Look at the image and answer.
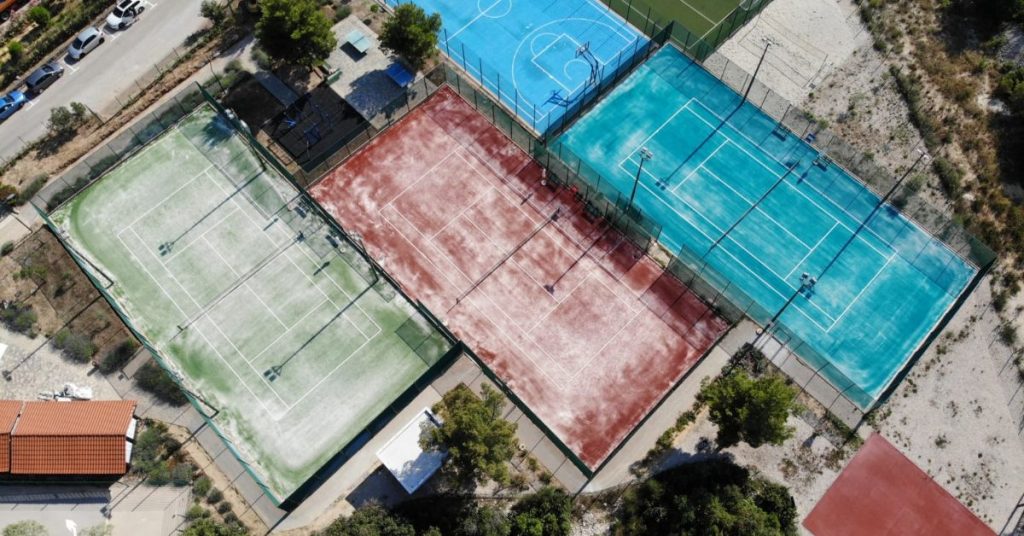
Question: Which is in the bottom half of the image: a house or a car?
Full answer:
Looking in the bottom half of the image, you will find a house.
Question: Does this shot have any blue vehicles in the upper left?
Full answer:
Yes, a blue vehicle appears in the upper left.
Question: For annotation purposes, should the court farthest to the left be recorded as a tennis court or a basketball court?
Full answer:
Looking closely, the court farthest to the left is a tennis court.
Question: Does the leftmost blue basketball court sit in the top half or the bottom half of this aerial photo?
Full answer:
Seen from above, the leftmost blue basketball court lies in the top half of the view.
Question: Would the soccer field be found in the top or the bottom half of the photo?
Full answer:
You can find the soccer field in the top half.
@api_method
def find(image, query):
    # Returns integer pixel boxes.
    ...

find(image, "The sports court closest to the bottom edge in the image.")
[800,431,1001,536]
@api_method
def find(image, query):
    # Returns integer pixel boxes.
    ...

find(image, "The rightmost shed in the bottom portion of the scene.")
[377,409,445,493]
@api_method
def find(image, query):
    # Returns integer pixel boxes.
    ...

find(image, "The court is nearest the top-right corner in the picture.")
[714,0,863,97]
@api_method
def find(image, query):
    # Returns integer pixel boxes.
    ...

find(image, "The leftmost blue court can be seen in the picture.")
[377,0,650,136]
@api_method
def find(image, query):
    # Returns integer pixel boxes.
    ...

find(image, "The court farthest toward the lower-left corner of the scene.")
[43,103,446,493]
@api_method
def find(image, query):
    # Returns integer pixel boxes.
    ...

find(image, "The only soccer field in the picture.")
[610,0,768,63]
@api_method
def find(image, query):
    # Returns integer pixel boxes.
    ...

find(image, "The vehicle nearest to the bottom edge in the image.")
[0,86,26,120]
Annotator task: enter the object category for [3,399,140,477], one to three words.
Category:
house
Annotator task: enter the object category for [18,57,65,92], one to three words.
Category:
car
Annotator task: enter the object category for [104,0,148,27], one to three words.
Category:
car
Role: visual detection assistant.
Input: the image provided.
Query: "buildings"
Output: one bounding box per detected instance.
[3,399,140,477]
[377,409,445,493]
